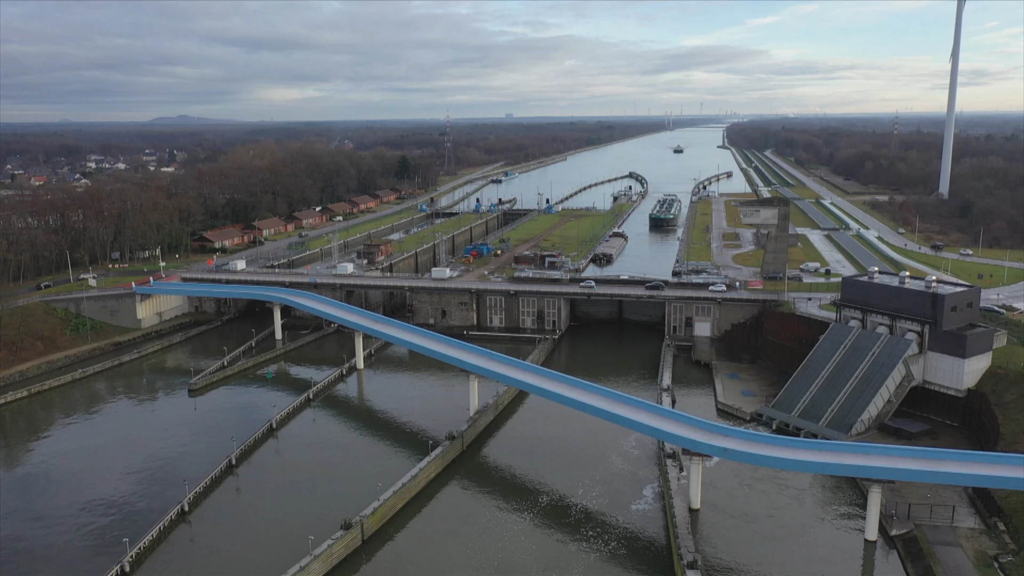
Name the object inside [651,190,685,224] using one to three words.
ship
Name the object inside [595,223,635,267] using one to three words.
ship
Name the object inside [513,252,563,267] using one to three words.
building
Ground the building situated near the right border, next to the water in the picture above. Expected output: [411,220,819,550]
[758,269,1004,442]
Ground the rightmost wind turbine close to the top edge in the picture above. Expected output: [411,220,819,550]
[938,0,966,193]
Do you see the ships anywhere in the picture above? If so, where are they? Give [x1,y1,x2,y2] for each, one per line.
[651,190,685,224]
[675,143,685,152]
[595,223,635,267]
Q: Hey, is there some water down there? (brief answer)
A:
Yes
